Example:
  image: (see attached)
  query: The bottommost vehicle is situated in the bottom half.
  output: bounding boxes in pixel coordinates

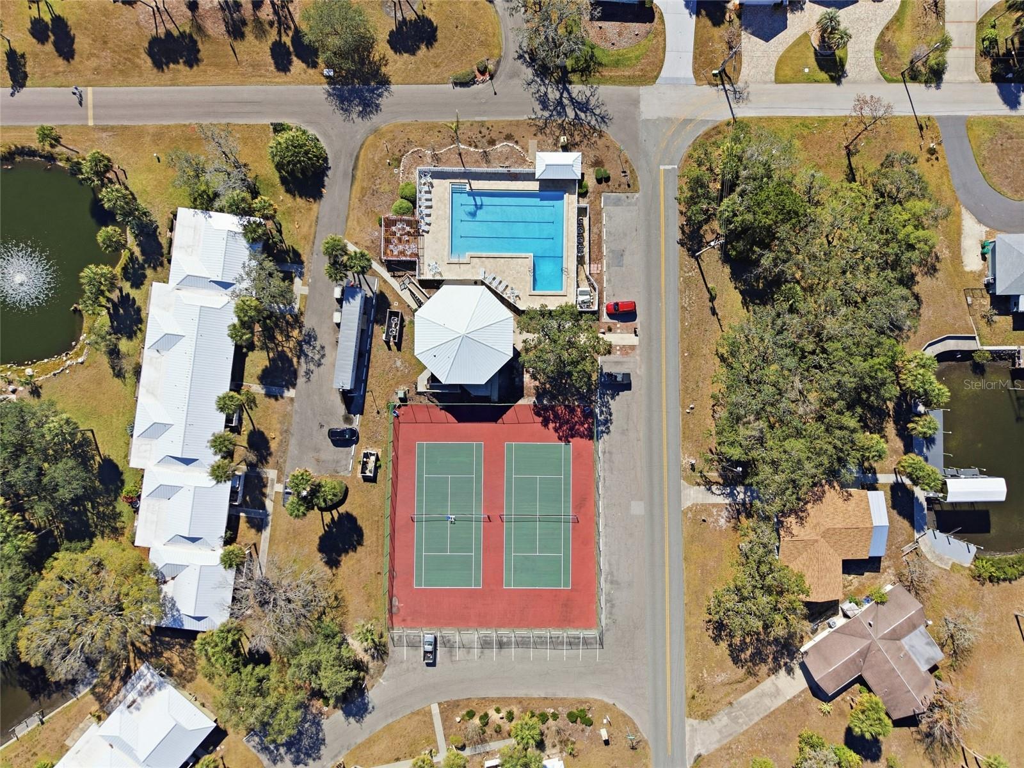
[422,635,435,665]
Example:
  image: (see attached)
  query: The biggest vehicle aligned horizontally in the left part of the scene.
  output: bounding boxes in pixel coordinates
[326,429,358,443]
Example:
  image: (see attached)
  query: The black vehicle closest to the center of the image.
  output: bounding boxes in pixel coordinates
[601,371,632,385]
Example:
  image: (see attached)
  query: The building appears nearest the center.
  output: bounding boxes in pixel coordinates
[415,285,513,401]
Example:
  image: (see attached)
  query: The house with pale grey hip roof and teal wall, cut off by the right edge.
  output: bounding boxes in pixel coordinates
[990,233,1024,312]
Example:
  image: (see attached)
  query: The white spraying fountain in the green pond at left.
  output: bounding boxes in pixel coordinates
[0,239,61,319]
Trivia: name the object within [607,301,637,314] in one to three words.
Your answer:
vehicle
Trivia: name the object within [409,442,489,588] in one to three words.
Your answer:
tennis court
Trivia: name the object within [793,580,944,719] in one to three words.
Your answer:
house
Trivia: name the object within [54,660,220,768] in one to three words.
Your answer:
house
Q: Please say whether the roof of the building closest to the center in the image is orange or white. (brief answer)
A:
white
